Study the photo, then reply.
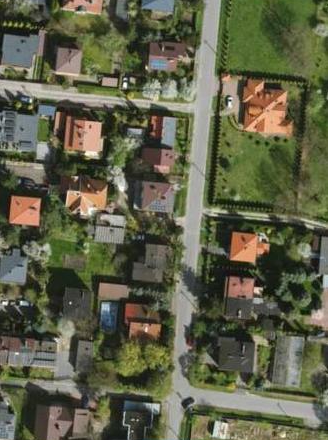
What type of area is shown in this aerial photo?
residential area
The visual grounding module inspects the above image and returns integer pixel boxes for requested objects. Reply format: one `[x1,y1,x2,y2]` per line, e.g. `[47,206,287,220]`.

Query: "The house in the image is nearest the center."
[141,181,176,216]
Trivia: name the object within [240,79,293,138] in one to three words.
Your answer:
house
